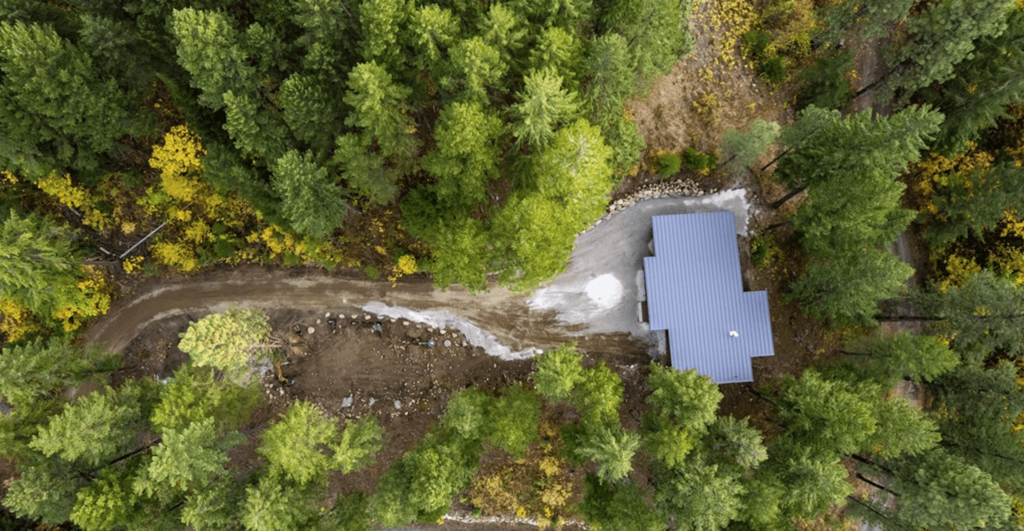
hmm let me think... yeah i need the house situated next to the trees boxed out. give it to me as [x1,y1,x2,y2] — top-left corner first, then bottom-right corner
[640,209,774,387]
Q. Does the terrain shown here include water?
No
